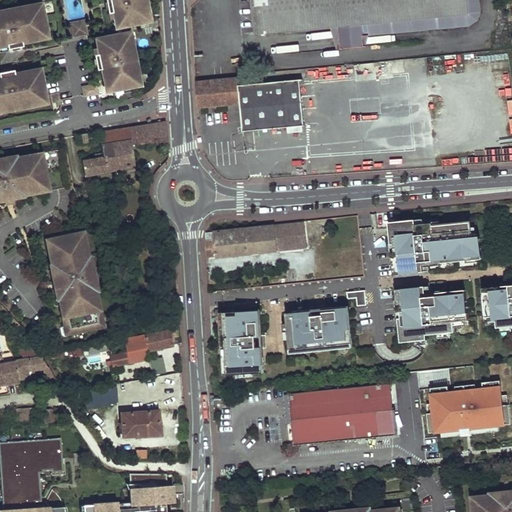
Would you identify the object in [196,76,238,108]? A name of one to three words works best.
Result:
building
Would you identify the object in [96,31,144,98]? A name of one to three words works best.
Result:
house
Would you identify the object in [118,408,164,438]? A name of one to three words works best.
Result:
house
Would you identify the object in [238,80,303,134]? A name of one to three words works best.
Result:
building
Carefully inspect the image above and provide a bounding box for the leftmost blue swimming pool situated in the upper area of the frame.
[64,0,86,22]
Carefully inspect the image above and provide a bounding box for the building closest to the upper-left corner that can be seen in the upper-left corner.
[0,2,52,52]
